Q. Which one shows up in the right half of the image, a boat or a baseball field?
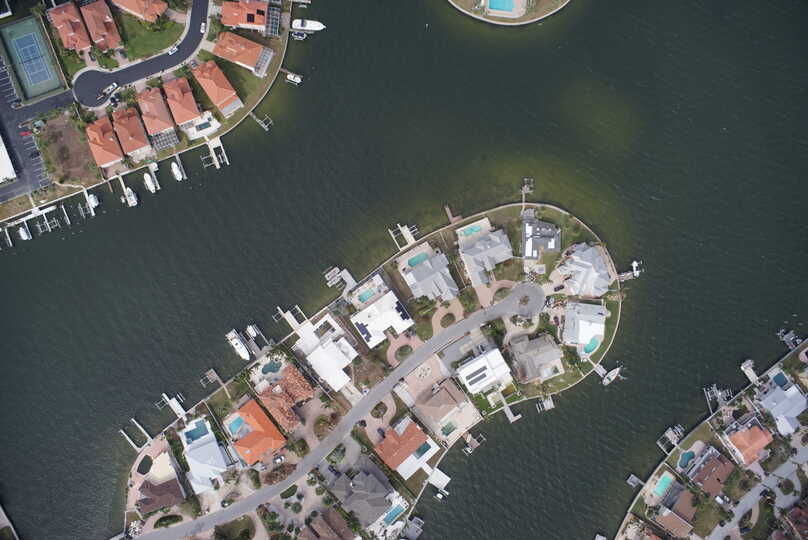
boat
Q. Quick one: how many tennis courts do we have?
1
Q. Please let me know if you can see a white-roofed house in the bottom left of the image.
Yes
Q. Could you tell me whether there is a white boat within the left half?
Yes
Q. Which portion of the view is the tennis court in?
top left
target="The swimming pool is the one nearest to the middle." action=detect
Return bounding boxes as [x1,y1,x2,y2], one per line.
[407,251,429,268]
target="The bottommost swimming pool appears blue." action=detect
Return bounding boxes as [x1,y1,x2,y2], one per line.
[383,504,405,527]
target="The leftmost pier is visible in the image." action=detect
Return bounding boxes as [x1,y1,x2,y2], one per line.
[0,205,58,247]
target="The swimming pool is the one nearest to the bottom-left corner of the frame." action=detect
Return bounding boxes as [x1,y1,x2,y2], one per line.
[137,454,153,475]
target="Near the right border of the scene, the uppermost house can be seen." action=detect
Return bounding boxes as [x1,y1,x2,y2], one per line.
[761,384,806,436]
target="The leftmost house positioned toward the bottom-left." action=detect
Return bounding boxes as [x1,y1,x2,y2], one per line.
[138,451,186,514]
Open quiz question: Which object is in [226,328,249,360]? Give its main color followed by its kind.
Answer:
white boat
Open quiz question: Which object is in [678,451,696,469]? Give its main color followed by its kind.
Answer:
blue swimming pool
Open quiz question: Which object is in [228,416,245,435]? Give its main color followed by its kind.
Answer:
blue swimming pool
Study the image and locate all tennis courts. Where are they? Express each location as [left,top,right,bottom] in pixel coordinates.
[2,19,62,98]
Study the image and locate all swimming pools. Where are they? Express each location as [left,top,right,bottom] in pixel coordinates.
[583,336,600,354]
[357,287,375,304]
[772,372,790,388]
[488,0,516,13]
[678,451,696,469]
[184,418,211,443]
[383,504,405,527]
[261,360,282,374]
[228,416,245,435]
[441,422,458,437]
[462,224,482,235]
[653,474,675,498]
[415,442,432,459]
[137,454,153,475]
[407,251,429,268]
[195,121,212,132]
